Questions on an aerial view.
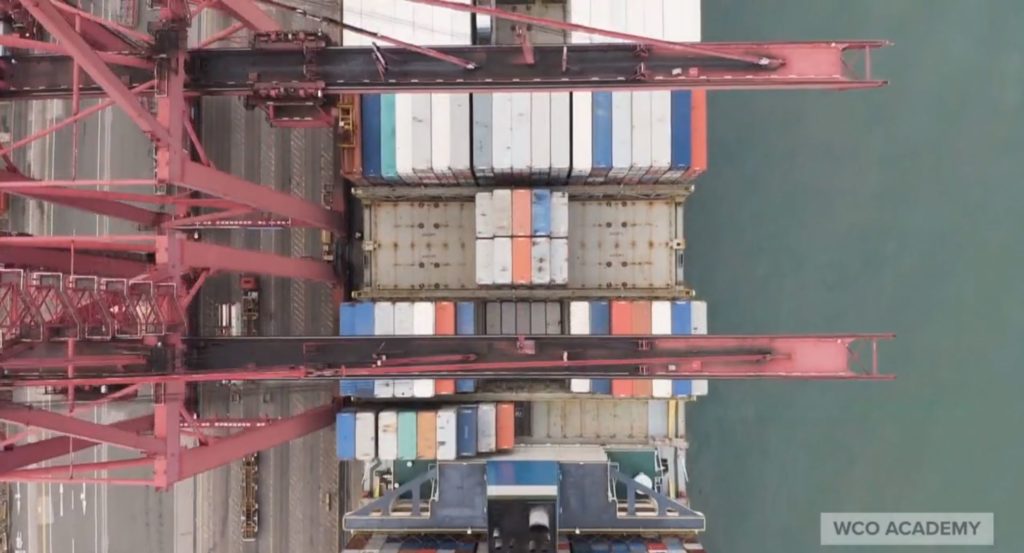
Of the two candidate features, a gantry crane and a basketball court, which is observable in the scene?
gantry crane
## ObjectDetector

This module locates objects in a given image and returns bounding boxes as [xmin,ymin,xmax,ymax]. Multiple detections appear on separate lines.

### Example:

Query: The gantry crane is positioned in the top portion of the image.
[0,0,888,251]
